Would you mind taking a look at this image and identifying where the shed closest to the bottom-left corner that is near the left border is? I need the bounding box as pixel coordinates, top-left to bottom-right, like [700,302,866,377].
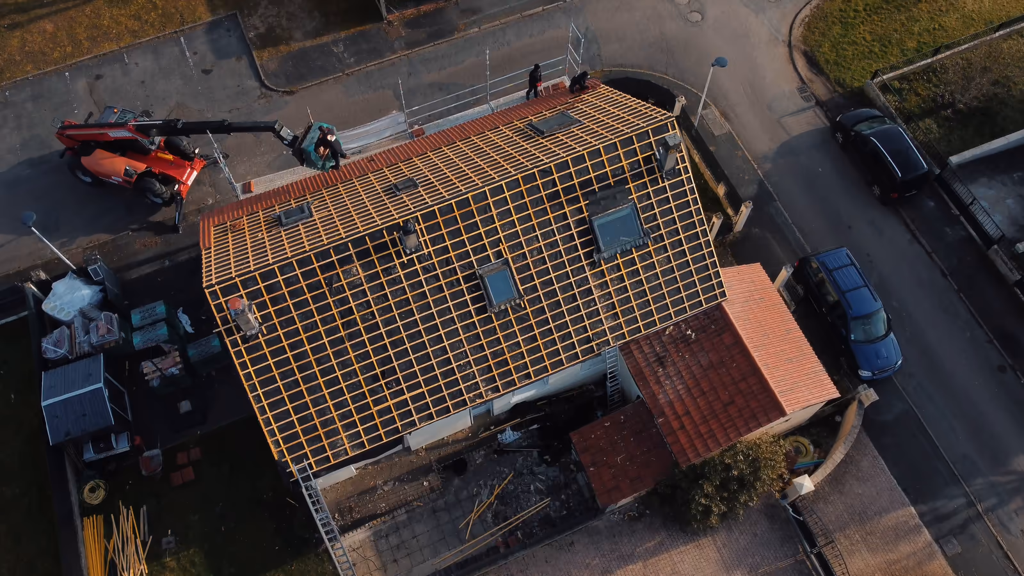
[40,352,132,452]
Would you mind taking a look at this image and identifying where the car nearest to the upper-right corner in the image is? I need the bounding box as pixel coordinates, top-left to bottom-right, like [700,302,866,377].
[832,99,939,206]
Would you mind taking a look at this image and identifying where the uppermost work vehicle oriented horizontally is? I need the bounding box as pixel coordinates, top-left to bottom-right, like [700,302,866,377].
[54,97,355,231]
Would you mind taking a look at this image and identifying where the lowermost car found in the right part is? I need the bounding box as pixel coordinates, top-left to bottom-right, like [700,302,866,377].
[794,246,905,380]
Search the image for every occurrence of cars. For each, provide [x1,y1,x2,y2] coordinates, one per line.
[832,99,939,206]
[794,246,905,380]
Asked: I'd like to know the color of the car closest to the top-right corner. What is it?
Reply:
black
